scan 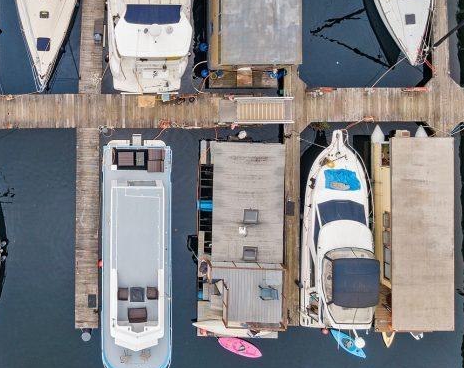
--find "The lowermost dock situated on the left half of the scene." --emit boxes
[75,129,100,327]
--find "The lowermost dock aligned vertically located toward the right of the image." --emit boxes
[283,90,321,327]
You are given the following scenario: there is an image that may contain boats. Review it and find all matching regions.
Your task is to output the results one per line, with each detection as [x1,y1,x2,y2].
[106,0,194,96]
[384,332,396,349]
[331,332,367,360]
[370,0,464,68]
[100,134,173,368]
[299,123,380,350]
[197,140,286,338]
[370,124,455,333]
[192,322,272,341]
[411,333,425,342]
[17,0,78,93]
[207,0,302,91]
